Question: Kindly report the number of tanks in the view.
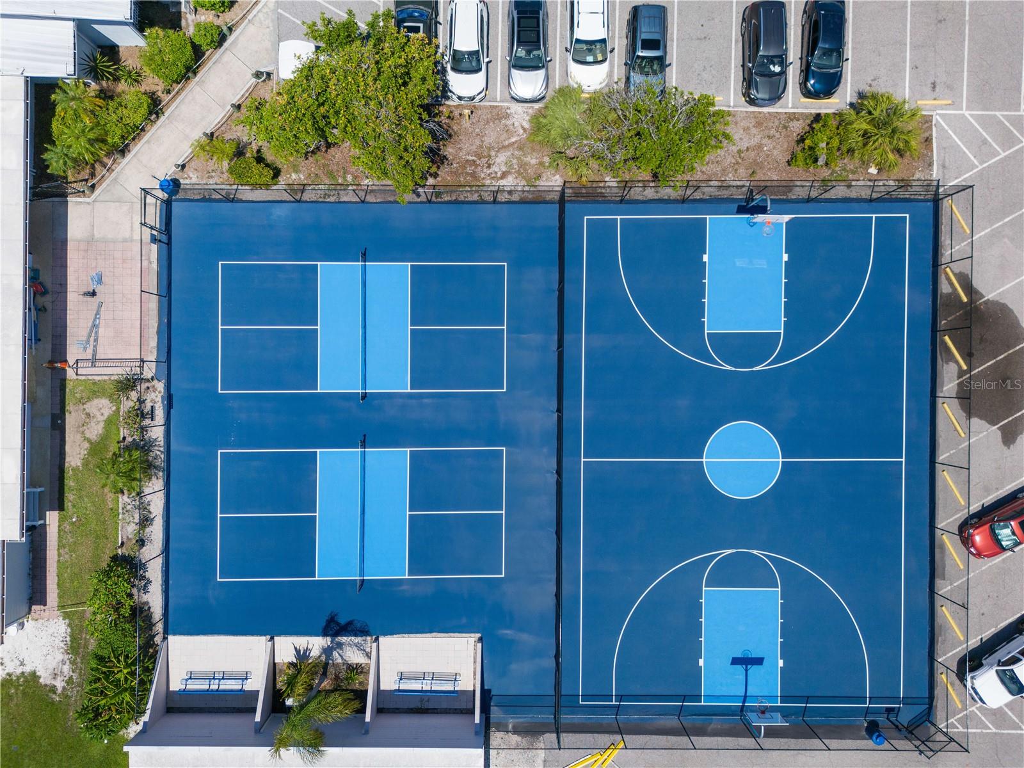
0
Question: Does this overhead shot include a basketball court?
Yes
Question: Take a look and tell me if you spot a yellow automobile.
No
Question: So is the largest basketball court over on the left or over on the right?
right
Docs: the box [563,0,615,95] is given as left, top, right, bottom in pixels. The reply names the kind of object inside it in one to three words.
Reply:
car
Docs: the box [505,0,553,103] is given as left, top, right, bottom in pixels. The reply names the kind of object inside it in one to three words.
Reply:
car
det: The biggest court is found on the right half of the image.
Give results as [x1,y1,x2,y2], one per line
[559,199,941,722]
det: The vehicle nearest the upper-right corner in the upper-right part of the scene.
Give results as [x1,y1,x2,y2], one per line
[801,0,854,101]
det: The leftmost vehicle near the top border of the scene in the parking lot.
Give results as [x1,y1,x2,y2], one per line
[442,0,492,103]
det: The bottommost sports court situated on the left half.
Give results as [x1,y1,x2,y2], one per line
[217,448,505,581]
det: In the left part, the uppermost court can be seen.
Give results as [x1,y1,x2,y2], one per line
[219,262,507,392]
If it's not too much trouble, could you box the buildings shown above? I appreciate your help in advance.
[120,712,485,768]
[0,0,169,45]
[0,79,40,541]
